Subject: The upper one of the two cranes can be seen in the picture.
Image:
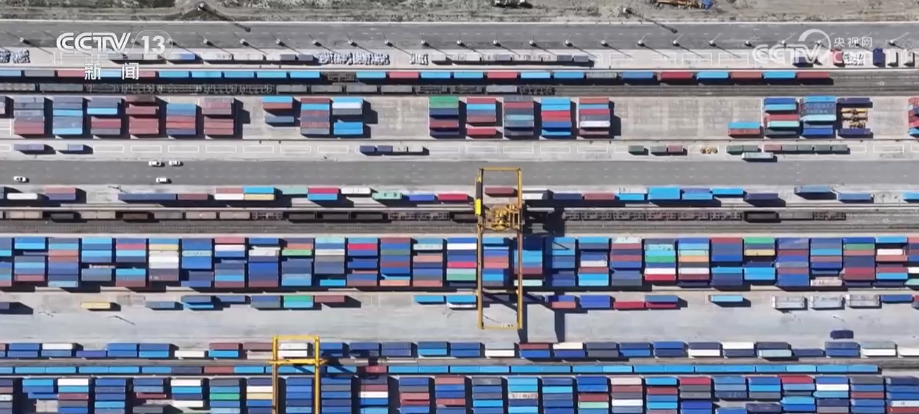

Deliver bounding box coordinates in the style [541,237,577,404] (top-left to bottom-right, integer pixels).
[473,167,524,330]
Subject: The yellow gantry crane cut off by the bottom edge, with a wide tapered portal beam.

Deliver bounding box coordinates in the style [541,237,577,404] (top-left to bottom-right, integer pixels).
[266,335,329,414]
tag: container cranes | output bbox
[473,167,524,330]
[266,335,329,414]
